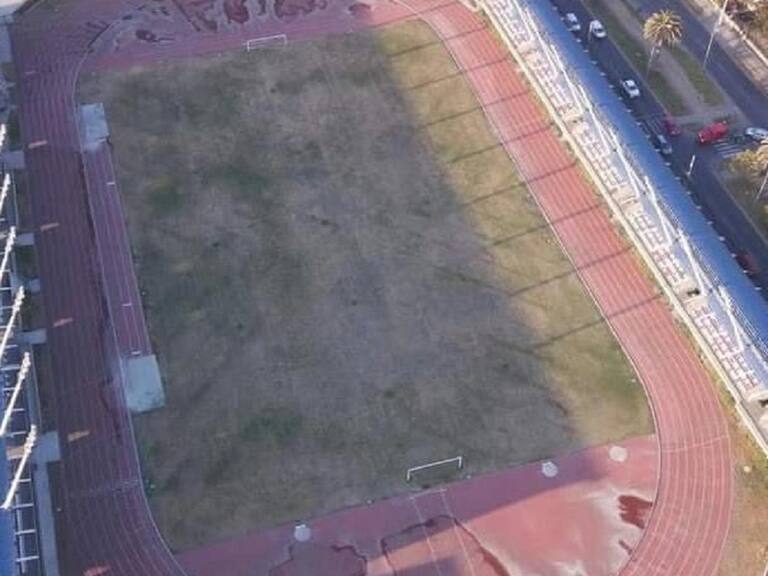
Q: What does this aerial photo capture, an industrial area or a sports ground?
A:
sports ground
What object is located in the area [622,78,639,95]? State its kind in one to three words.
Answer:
car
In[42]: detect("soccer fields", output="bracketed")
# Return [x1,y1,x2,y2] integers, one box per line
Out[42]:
[76,21,656,553]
